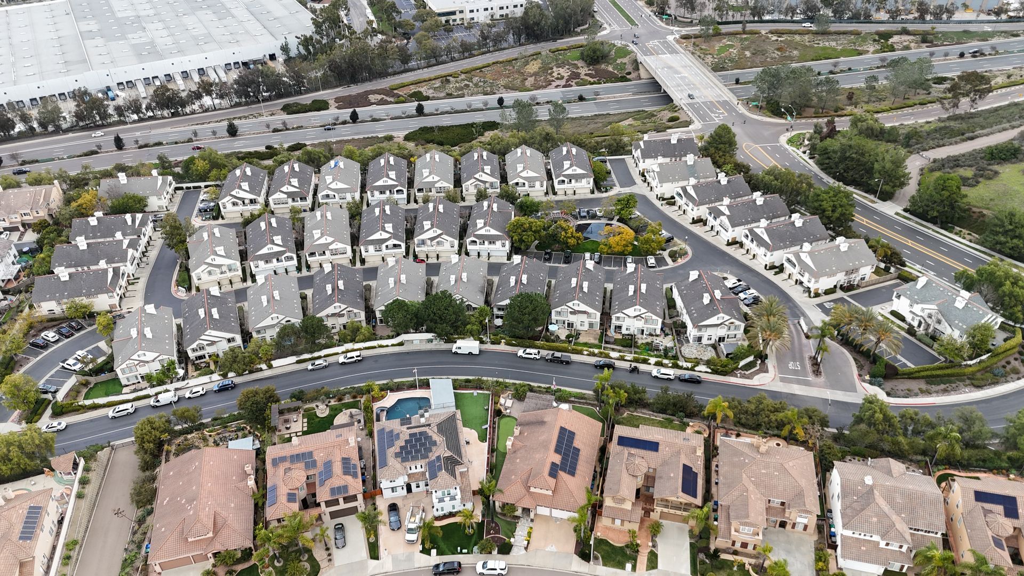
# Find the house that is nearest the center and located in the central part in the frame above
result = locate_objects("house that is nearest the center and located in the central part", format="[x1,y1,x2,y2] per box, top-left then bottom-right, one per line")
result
[492,252,545,326]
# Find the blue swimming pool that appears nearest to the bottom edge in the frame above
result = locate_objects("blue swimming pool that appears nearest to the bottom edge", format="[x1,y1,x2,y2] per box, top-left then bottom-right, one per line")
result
[384,396,433,419]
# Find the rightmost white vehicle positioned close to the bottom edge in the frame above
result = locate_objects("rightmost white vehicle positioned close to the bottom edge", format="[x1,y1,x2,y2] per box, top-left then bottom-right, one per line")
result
[476,559,507,575]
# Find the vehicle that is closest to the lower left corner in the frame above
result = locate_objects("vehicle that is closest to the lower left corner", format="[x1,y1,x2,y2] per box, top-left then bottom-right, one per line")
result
[39,419,67,434]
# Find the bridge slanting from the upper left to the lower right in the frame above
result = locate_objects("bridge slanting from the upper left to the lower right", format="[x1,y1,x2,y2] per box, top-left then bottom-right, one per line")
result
[631,39,744,122]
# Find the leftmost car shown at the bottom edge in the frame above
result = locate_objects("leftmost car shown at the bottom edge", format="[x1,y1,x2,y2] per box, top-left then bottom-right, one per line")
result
[332,522,346,549]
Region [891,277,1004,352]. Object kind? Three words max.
building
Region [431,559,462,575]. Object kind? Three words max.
car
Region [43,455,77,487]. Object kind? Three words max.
gazebo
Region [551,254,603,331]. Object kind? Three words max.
house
